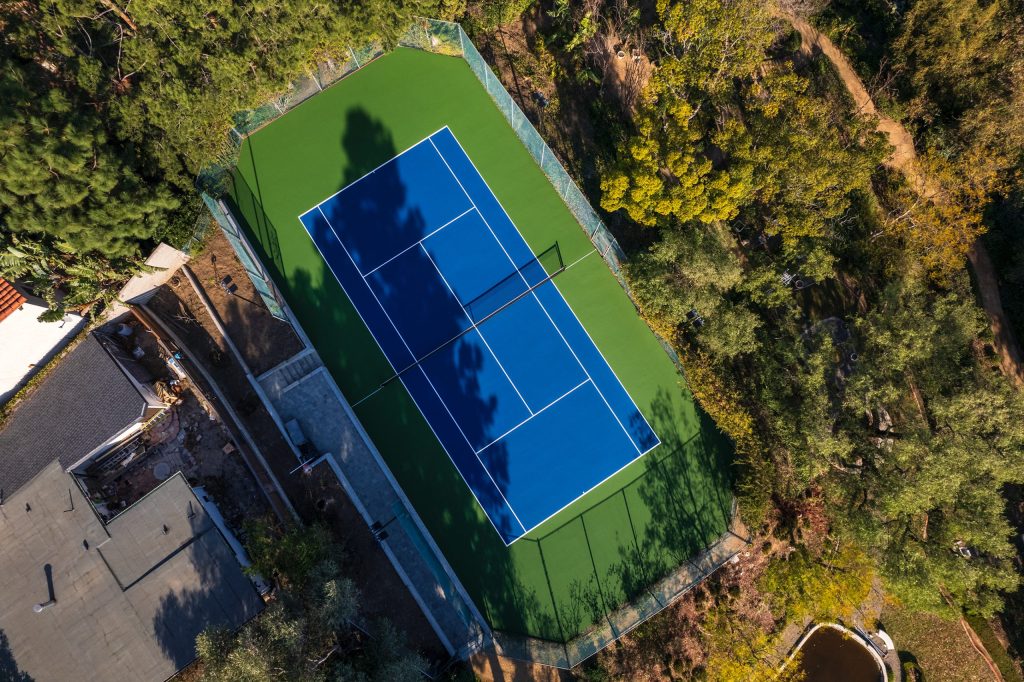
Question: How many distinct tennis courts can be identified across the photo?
1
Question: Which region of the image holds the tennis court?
center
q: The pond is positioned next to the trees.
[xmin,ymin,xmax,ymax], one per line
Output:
[776,622,888,682]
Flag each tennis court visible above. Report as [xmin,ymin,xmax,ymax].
[220,45,739,640]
